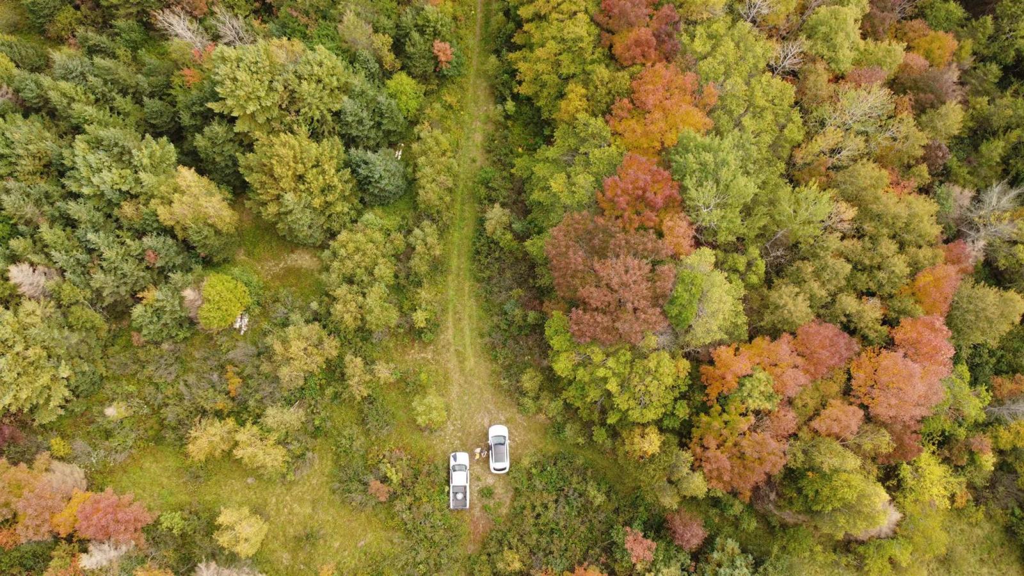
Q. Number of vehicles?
two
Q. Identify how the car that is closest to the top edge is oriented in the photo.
up and down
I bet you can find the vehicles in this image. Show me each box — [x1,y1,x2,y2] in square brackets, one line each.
[447,451,471,511]
[487,424,510,474]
